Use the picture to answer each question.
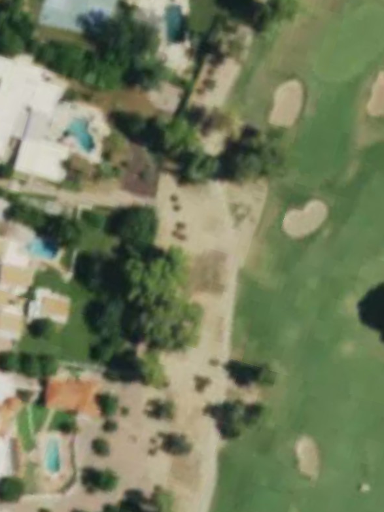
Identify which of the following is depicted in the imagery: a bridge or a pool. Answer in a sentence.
It is a pool that can be seen here.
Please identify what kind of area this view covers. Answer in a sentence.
This image shows a golf course.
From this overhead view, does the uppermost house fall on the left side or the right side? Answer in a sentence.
The uppermost house appears in the left half of the scene.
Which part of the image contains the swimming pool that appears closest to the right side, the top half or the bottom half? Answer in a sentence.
Seen from above, the swimming pool that appears closest to the right side lies in the top half of the view.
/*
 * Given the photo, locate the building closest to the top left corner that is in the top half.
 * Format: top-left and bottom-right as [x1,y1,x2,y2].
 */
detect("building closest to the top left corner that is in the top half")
[0,55,69,182]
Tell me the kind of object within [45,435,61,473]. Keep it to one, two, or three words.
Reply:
swimming pool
